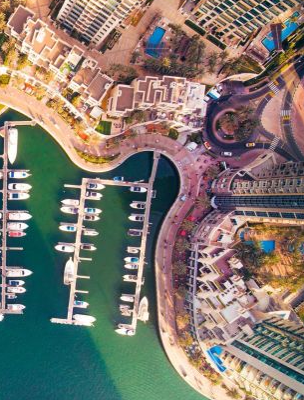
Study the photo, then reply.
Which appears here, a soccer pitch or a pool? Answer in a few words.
pool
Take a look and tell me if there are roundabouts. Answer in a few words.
Yes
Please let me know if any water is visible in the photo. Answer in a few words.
Yes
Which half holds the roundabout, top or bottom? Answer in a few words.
top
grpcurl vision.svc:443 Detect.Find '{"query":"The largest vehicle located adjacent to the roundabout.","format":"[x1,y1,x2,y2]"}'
[207,85,223,100]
